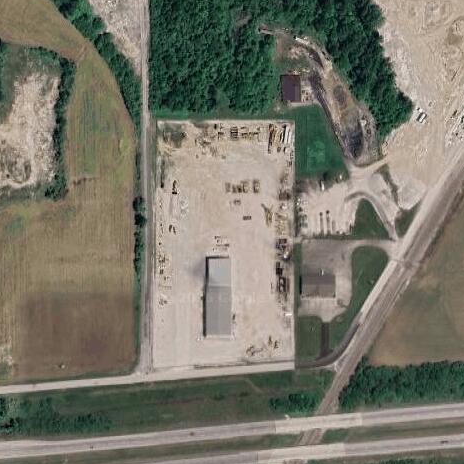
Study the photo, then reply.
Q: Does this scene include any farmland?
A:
Yes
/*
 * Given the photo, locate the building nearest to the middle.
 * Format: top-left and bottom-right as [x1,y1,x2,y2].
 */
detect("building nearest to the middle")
[208,257,232,286]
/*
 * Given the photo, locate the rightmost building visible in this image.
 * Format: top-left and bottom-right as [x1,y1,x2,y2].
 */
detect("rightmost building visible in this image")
[302,269,336,298]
